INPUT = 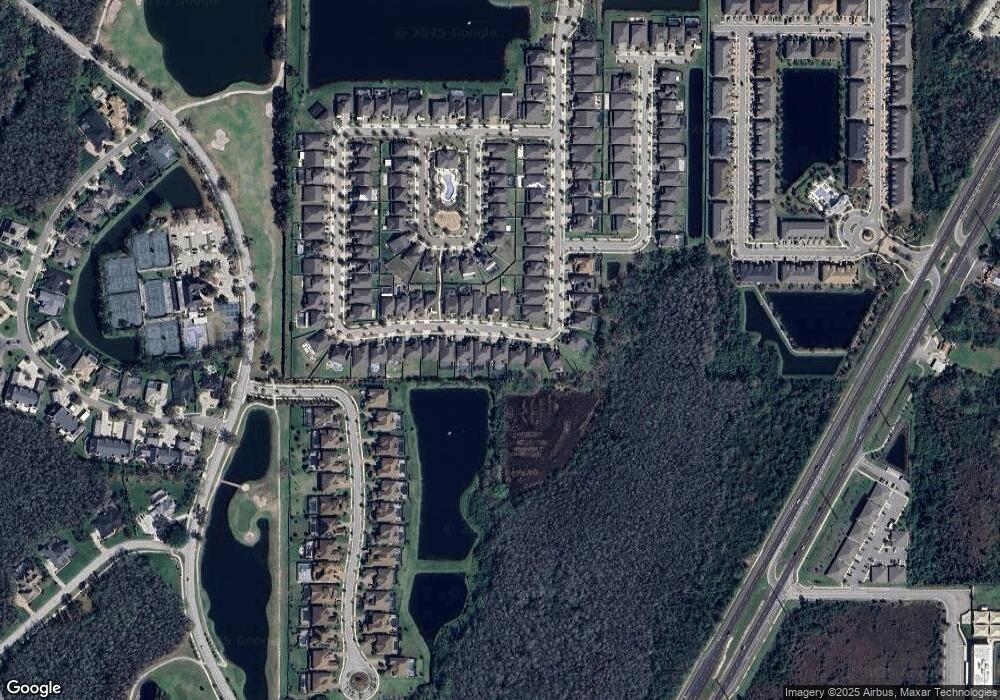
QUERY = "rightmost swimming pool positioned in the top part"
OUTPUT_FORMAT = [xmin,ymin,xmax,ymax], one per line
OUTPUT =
[809,177,841,211]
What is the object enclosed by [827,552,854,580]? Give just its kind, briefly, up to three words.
building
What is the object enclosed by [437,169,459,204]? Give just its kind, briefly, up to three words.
swimming pool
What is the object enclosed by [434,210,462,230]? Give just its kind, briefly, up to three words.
playground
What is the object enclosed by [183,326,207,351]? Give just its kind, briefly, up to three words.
sports court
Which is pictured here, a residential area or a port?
residential area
